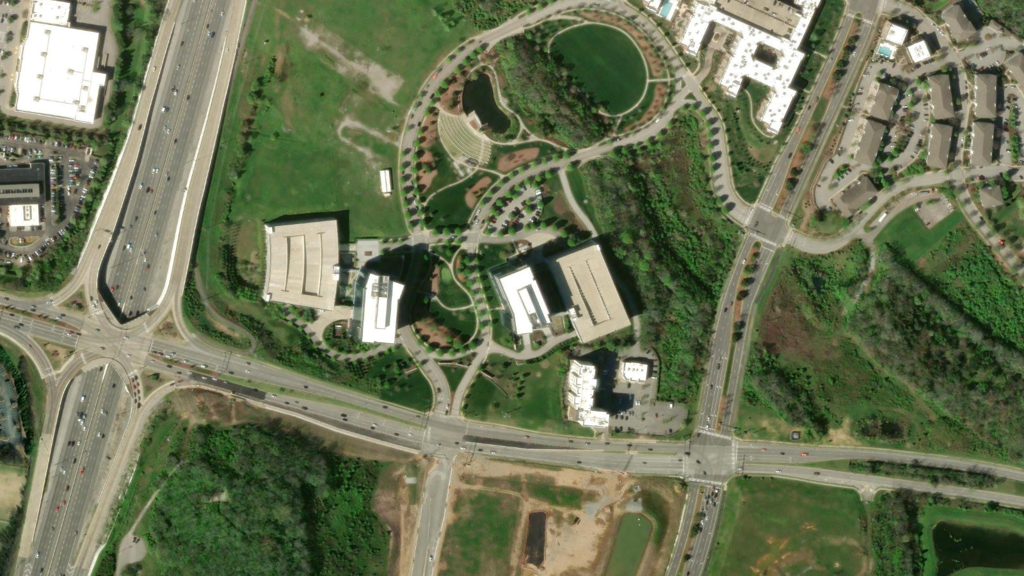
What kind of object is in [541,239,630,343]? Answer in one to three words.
building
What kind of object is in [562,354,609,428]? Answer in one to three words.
building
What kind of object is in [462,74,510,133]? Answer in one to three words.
pond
